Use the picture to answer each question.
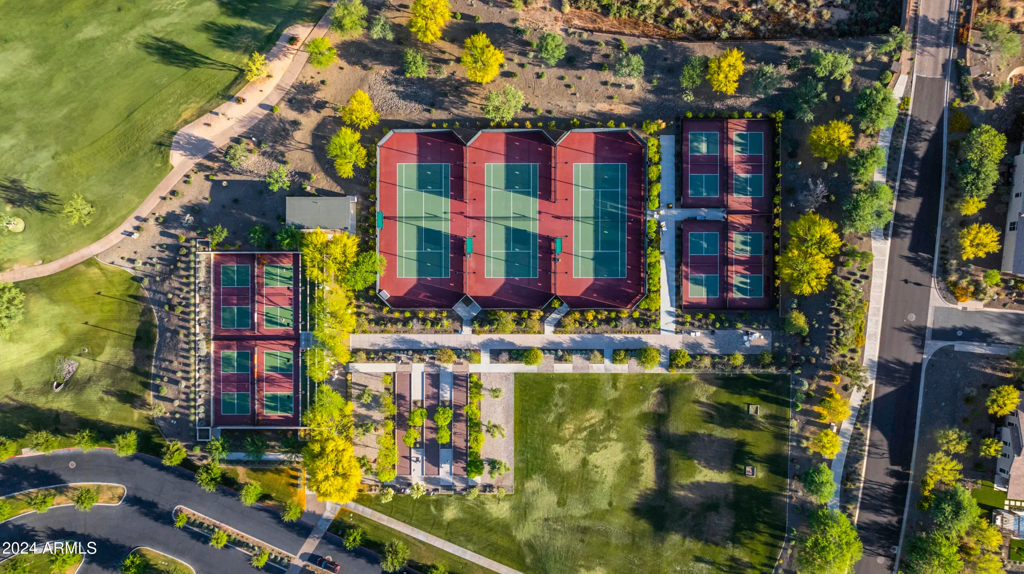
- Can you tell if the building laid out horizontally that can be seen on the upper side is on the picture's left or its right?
left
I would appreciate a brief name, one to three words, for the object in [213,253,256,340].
sports court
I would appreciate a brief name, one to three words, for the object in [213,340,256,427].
sports court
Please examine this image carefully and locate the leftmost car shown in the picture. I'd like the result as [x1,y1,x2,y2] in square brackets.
[316,556,340,573]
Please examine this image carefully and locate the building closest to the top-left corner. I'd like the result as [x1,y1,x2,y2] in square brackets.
[286,197,361,232]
